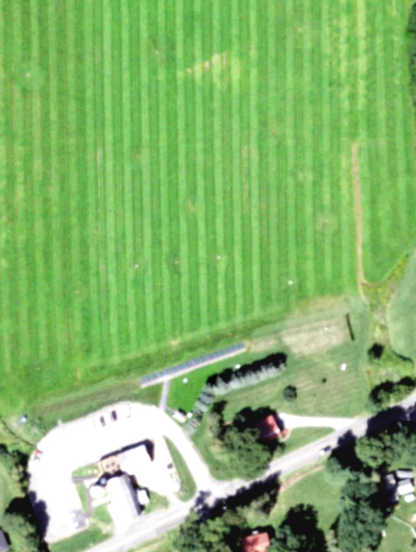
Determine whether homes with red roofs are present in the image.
Yes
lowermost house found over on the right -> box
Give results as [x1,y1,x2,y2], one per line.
[242,533,271,552]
